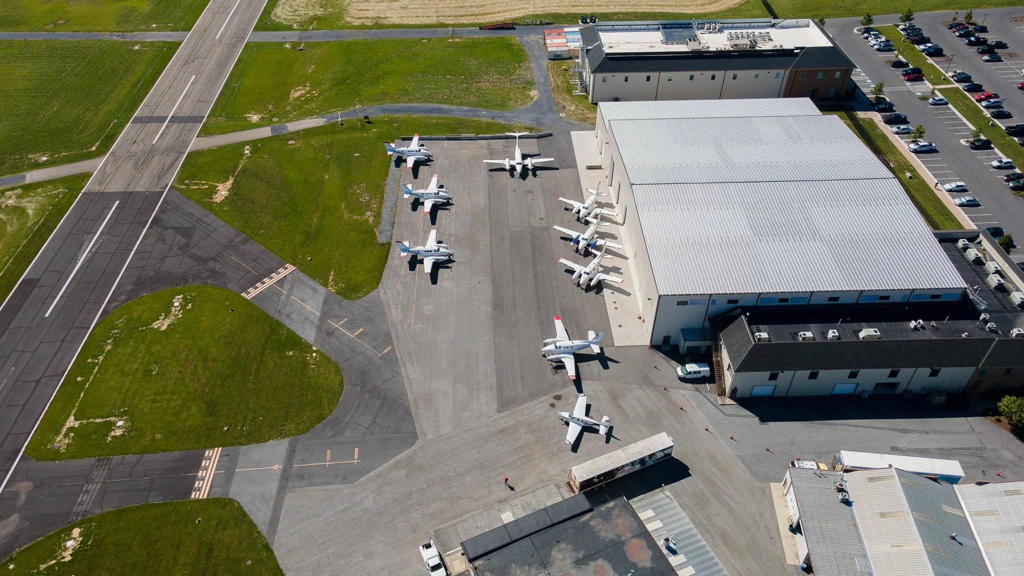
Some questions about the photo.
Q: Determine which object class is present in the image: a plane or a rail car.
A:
plane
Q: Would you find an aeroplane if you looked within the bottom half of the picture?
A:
Yes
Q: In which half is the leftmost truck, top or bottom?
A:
bottom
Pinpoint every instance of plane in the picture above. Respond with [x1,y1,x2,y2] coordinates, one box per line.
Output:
[399,227,455,276]
[403,174,453,214]
[553,182,621,222]
[551,212,624,254]
[553,244,630,290]
[555,393,611,443]
[537,315,602,380]
[482,134,556,176]
[387,134,433,168]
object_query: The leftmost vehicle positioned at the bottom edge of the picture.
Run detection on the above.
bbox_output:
[416,538,449,576]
